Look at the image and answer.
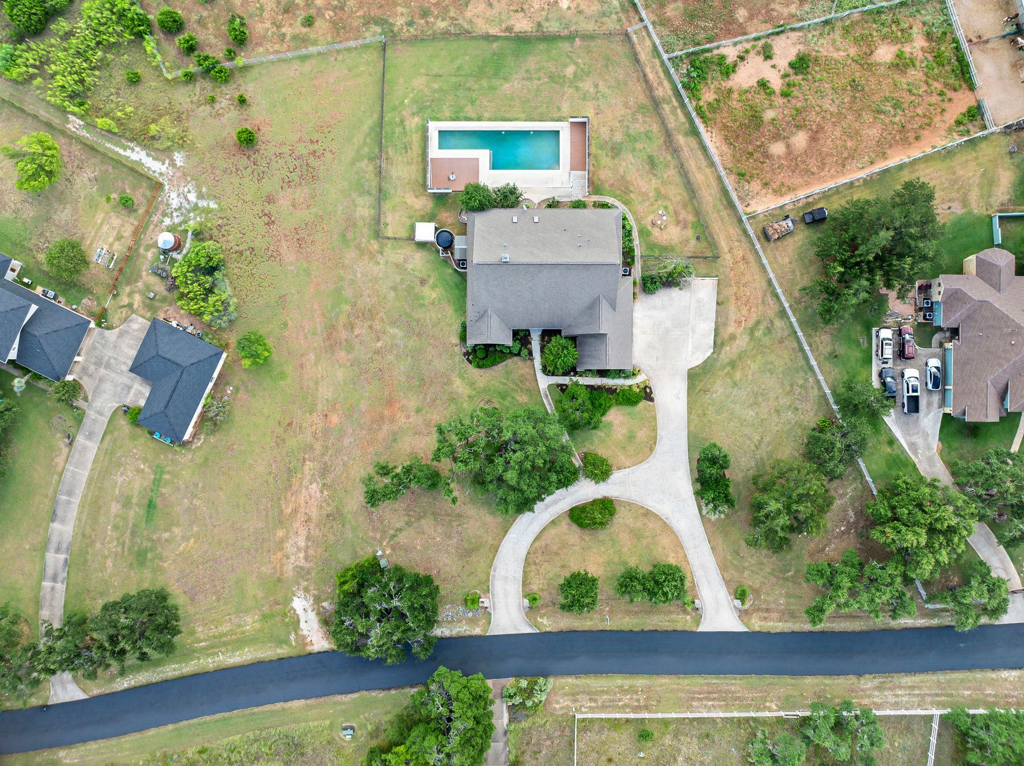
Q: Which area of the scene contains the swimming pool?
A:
top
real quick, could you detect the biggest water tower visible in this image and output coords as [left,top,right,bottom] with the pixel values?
[154,228,188,255]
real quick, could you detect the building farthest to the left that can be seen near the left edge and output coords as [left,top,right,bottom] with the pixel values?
[0,253,100,382]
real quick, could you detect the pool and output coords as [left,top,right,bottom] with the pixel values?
[426,113,592,207]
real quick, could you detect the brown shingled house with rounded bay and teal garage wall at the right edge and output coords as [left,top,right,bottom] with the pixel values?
[928,247,1024,422]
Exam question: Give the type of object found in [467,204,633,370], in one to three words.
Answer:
house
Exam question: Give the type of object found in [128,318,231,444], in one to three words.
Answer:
building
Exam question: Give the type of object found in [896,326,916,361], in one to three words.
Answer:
car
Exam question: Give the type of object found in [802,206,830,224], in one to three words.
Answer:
vehicle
